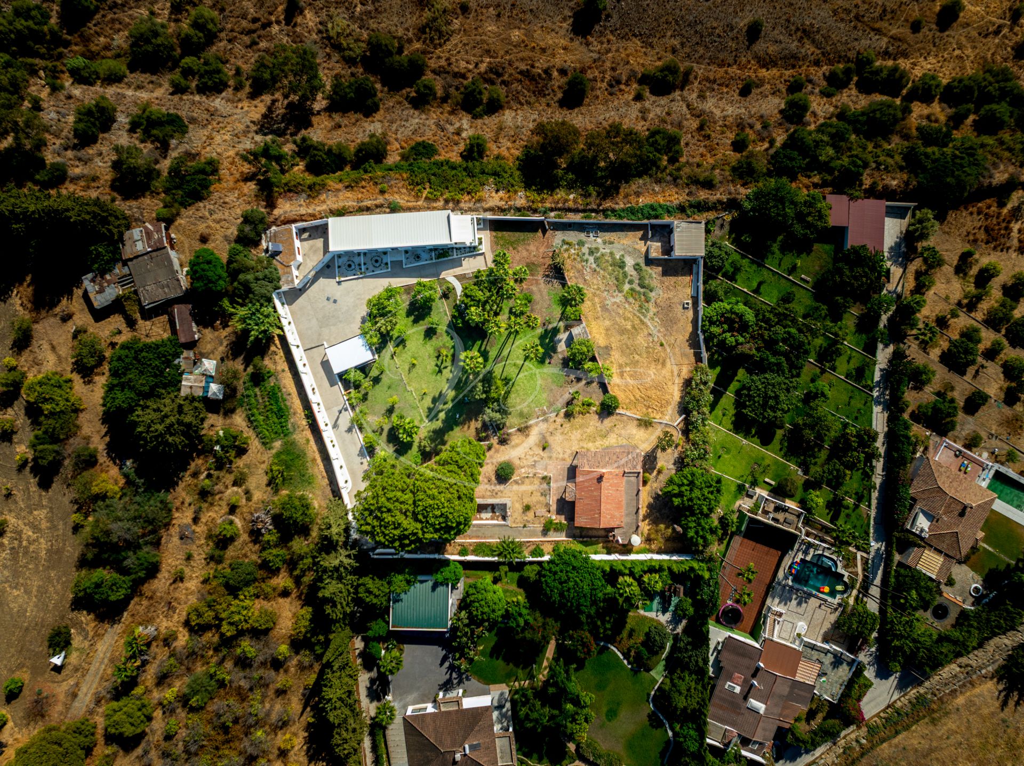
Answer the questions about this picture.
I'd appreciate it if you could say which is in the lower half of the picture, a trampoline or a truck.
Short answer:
trampoline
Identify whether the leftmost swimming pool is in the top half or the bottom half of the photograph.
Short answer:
bottom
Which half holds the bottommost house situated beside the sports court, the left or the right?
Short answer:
right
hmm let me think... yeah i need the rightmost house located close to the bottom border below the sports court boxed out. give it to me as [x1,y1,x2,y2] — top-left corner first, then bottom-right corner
[703,632,822,759]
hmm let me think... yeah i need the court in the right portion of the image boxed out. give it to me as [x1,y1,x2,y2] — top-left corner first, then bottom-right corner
[715,535,785,633]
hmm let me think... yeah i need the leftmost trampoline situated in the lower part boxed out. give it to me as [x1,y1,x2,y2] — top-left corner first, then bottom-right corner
[718,602,743,627]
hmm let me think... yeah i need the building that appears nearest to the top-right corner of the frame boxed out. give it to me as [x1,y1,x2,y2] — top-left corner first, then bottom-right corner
[826,195,885,256]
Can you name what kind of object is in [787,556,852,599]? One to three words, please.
swimming pool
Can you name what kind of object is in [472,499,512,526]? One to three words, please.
swimming pool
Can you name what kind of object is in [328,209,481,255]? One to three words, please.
house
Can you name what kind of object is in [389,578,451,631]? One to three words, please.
building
